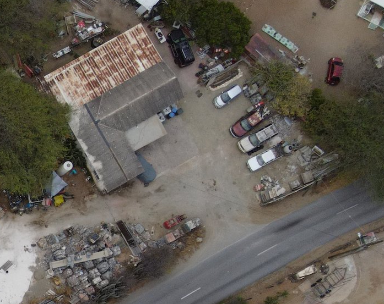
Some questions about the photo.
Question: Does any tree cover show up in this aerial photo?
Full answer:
Yes, tree cover can be seen from above here.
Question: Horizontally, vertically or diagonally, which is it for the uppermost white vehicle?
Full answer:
The uppermost white vehicle has been laid out diagonally relative to the frame.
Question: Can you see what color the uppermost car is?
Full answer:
The color of the uppermost car is black.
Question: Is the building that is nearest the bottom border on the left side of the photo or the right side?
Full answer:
It is on the left.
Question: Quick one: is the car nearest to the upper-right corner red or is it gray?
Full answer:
The color of the car nearest to the upper-right corner is red.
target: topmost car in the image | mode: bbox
[167,30,191,68]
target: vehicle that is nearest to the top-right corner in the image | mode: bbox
[322,56,344,88]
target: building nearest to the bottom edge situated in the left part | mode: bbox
[42,24,184,195]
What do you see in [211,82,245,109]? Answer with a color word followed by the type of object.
white vehicle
